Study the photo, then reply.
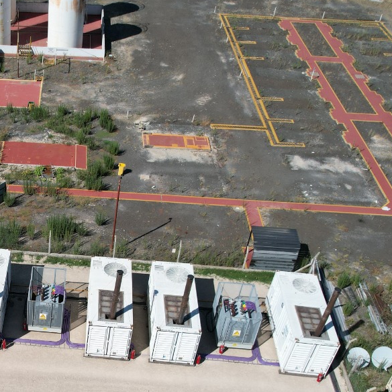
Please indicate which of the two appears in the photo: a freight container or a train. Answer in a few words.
freight container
